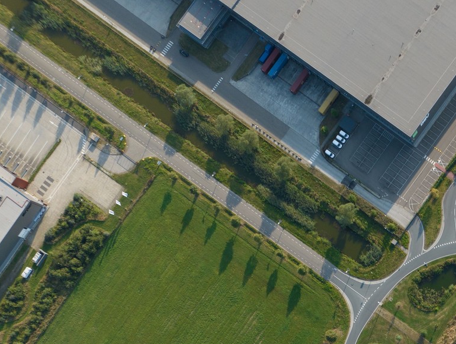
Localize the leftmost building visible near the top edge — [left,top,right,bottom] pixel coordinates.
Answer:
[175,0,233,48]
